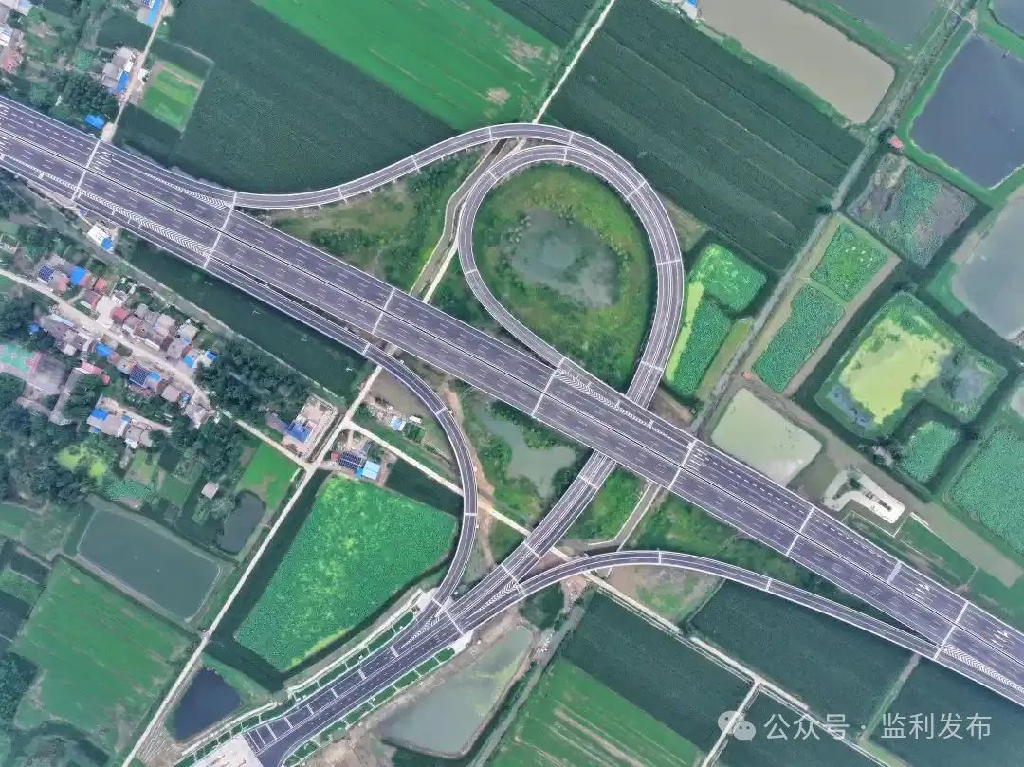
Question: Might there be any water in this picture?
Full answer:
Yes, some water is visible.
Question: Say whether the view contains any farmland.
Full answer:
Yes, farmland shows up in the scene.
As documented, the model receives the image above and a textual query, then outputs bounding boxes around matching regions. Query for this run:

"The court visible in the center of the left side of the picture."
[0,343,42,374]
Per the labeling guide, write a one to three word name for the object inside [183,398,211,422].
house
